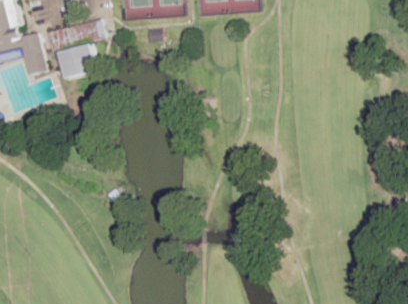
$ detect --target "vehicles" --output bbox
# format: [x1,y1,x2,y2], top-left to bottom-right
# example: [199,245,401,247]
[32,7,43,12]
[102,2,111,8]
[36,20,44,24]
[30,2,40,6]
